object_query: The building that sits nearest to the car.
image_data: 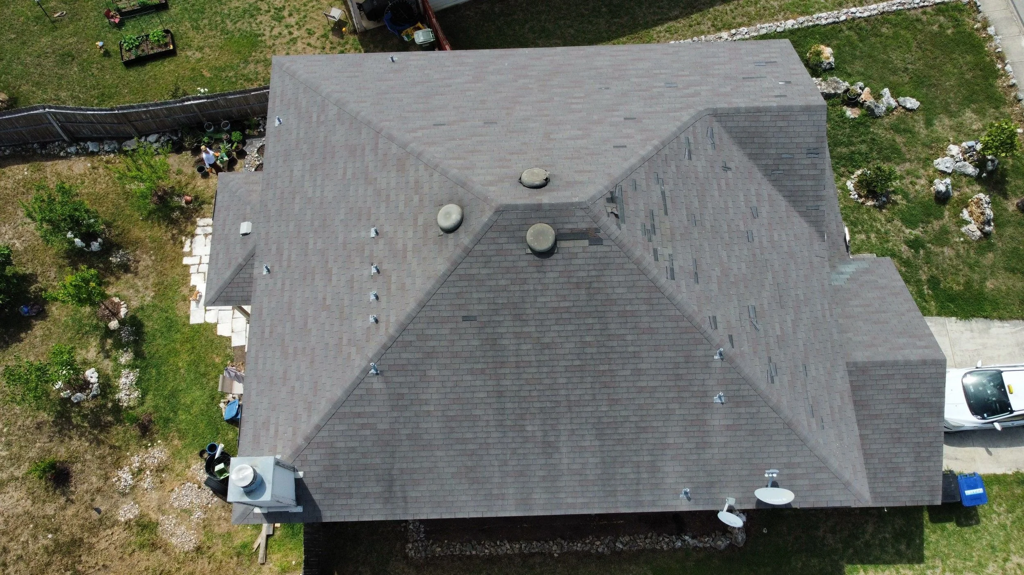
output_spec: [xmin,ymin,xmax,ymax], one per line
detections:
[204,40,947,525]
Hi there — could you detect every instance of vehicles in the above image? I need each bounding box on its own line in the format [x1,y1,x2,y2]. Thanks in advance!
[944,359,1024,431]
